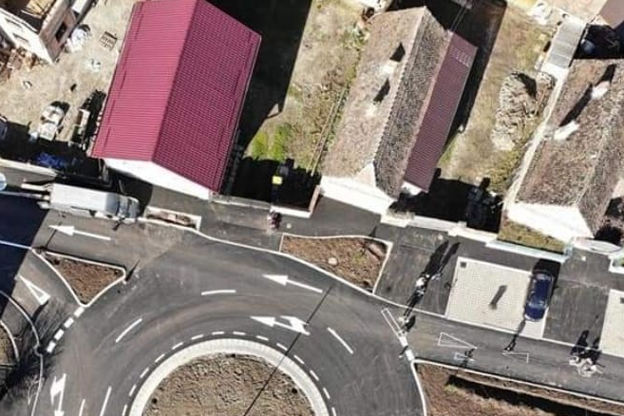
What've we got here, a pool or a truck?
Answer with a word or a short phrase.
truck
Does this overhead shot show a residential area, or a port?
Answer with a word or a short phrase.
residential area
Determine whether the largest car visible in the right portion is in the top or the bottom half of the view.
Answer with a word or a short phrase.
bottom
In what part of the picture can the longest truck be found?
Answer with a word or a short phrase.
left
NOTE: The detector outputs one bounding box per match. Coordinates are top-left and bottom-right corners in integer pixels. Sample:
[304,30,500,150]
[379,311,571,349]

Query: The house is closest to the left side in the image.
[0,0,79,62]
